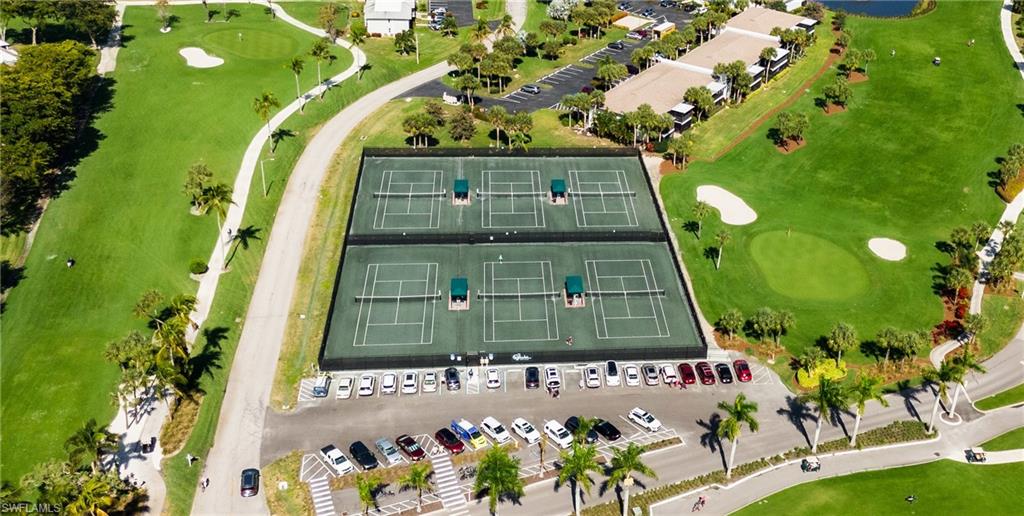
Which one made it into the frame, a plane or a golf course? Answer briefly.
golf course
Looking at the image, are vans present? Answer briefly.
Yes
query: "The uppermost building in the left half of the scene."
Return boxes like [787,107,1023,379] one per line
[361,0,419,36]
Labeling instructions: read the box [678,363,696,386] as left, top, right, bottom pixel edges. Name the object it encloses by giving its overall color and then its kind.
red car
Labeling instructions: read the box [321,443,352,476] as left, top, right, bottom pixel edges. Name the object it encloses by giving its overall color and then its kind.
white truck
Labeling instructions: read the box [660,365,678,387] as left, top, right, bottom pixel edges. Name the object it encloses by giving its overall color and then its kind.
white car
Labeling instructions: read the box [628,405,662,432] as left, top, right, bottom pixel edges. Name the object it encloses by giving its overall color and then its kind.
white car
